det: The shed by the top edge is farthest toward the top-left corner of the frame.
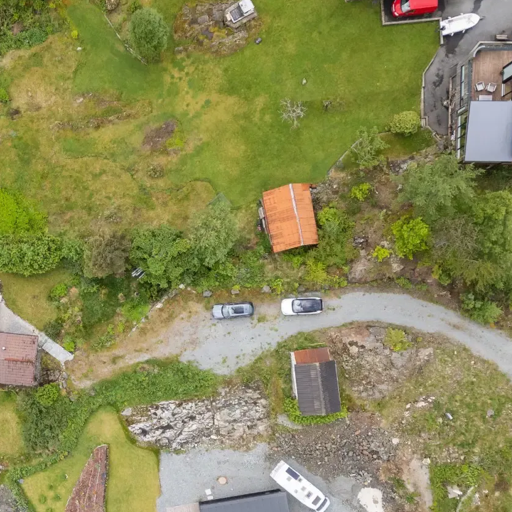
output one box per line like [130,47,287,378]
[223,0,257,30]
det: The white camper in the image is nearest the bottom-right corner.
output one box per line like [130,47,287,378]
[268,460,326,512]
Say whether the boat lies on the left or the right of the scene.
right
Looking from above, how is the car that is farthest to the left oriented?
horizontally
